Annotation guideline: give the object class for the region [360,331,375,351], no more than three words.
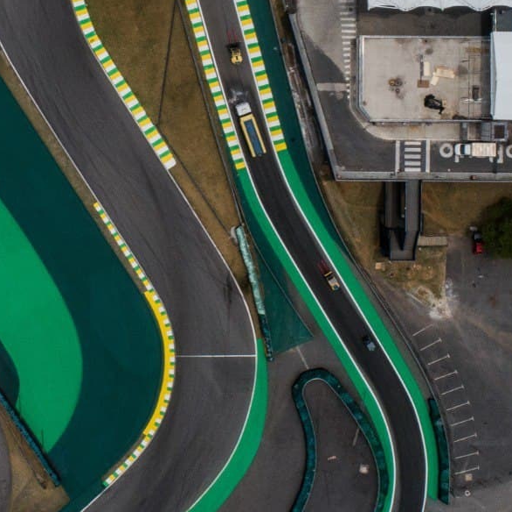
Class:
work vehicle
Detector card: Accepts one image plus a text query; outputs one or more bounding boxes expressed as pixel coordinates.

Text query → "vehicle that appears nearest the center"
[315,257,338,288]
